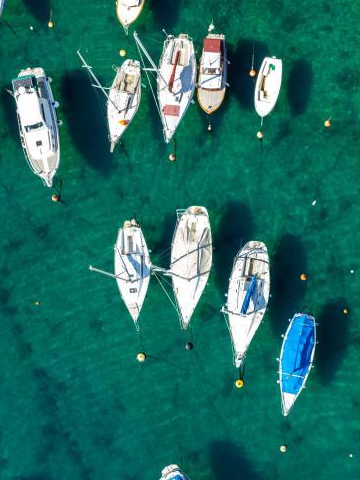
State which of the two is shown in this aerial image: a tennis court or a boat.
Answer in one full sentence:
There is a boat in the scene.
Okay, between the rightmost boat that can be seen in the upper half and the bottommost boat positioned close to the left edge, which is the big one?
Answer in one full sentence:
The bottommost boat positioned close to the left edge takes up more space than the rightmost boat that can be seen in the upper half does.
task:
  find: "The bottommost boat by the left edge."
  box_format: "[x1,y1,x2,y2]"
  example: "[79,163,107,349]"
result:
[3,68,69,194]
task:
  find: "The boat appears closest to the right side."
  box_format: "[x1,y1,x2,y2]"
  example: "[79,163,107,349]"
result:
[275,300,319,442]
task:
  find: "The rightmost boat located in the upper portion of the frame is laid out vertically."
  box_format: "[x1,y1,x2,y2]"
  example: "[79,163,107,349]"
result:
[253,54,283,131]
